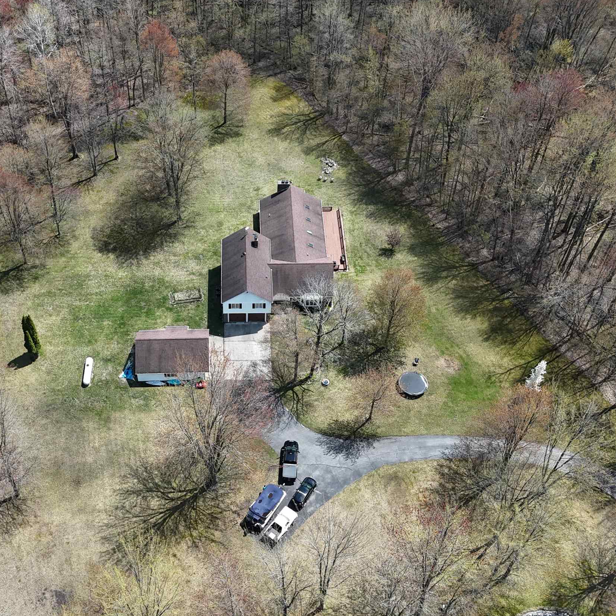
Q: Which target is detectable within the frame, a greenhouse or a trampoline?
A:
trampoline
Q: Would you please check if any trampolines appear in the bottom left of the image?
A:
No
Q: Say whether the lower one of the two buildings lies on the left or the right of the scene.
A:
left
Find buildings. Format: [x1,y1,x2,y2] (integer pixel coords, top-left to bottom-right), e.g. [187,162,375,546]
[220,178,333,322]
[135,327,210,380]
